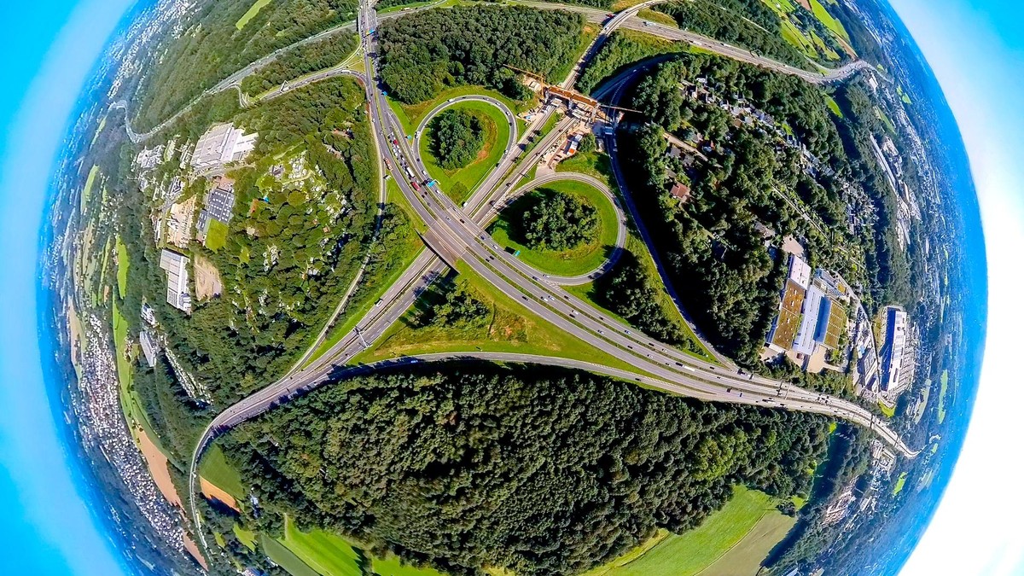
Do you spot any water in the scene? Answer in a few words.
No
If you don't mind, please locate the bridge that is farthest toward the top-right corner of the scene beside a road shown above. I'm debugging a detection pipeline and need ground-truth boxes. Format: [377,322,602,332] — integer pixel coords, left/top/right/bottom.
[544,86,597,113]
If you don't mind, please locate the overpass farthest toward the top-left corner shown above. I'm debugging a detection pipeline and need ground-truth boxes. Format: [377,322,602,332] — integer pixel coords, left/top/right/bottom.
[414,205,490,274]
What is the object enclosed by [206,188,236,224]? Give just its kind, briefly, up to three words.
building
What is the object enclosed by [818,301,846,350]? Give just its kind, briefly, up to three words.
building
